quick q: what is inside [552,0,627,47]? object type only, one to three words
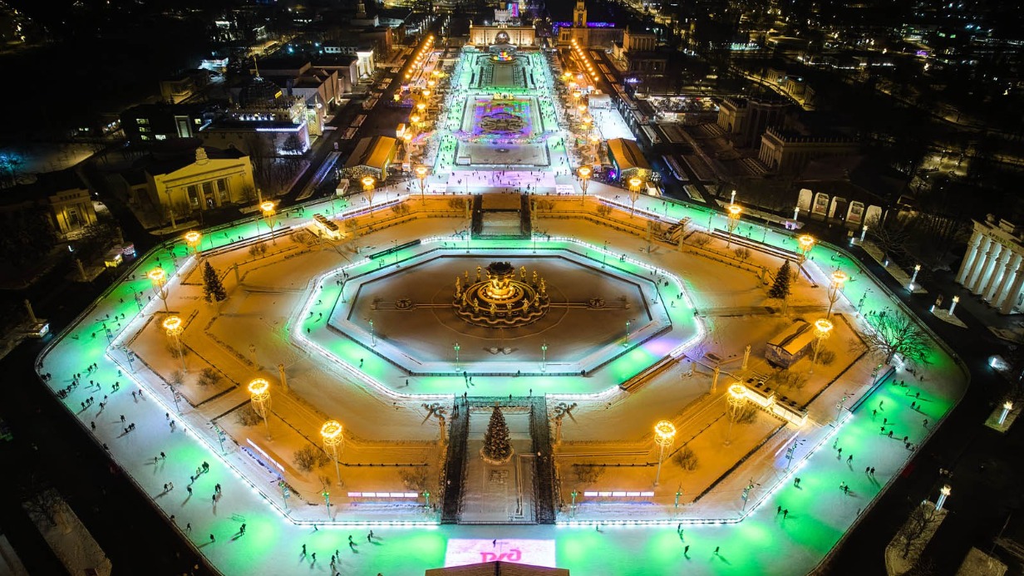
building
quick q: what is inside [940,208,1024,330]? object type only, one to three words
building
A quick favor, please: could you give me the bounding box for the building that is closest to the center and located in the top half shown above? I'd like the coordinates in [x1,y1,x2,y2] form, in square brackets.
[482,188,521,211]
